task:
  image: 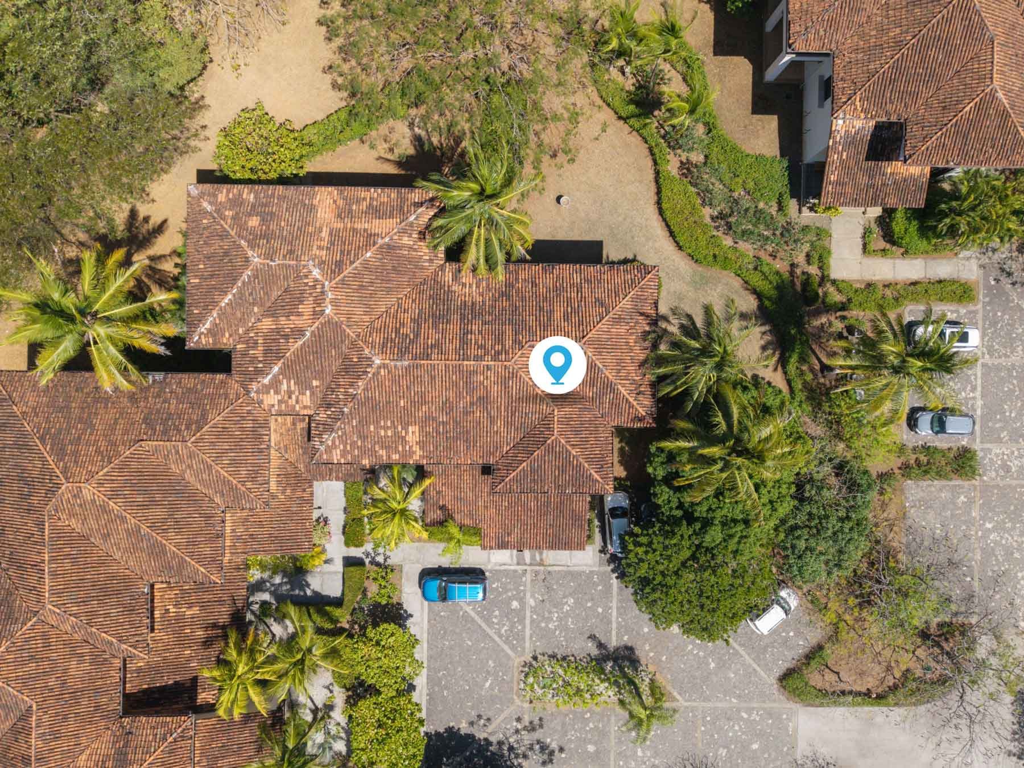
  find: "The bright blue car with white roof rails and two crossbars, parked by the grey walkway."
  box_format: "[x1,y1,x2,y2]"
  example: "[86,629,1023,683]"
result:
[424,572,489,606]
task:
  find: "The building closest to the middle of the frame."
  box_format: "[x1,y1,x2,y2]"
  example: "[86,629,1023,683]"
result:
[185,184,660,551]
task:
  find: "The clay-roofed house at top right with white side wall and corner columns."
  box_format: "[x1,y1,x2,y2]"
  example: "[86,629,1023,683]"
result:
[760,0,1024,210]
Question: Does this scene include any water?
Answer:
No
